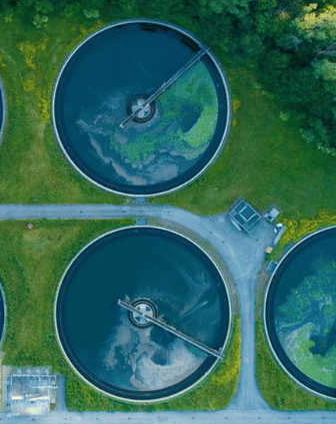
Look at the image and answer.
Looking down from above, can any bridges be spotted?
Yes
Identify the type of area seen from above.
industrial area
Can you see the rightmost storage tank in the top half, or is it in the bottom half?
bottom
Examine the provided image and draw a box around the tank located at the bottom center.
[53,225,232,404]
